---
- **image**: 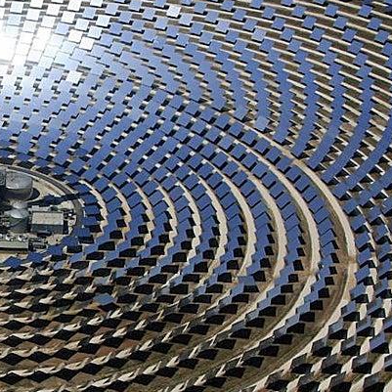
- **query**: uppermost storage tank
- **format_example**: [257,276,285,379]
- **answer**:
[2,171,33,201]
